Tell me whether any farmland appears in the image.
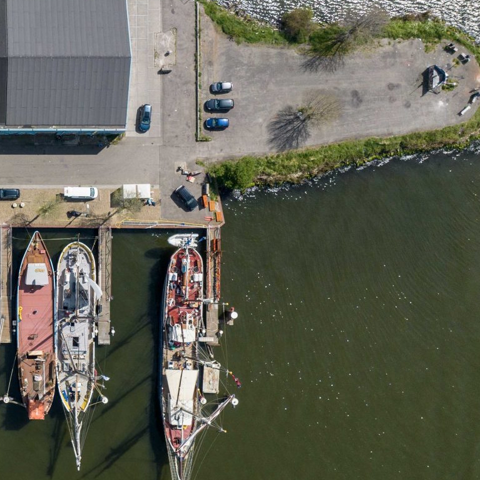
No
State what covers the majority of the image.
water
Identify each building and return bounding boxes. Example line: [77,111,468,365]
[0,0,134,135]
[421,65,462,100]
